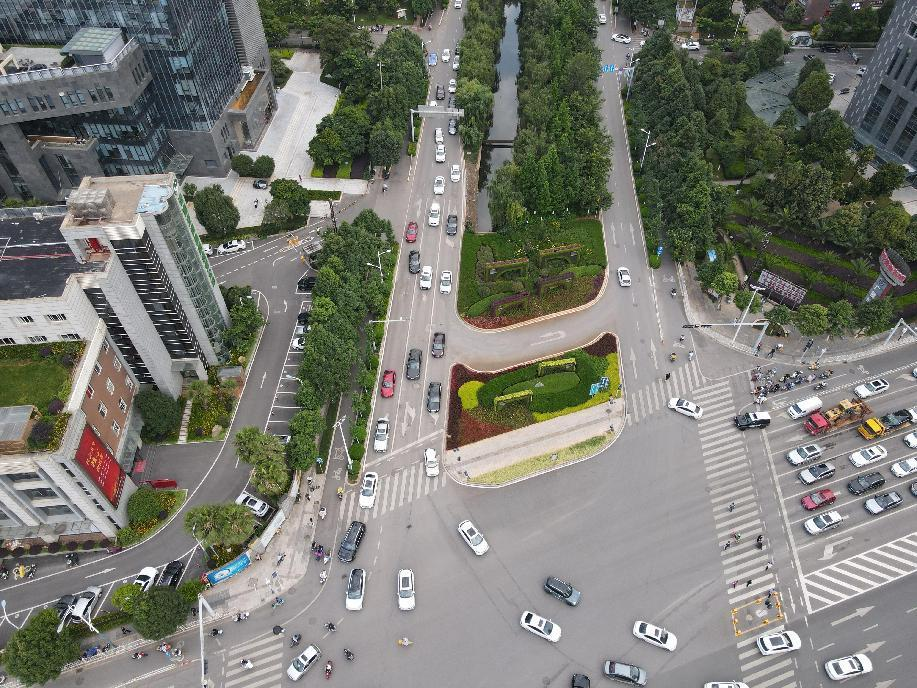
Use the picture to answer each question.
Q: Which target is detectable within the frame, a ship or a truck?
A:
truck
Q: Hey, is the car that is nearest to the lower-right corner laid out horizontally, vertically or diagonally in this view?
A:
horizontally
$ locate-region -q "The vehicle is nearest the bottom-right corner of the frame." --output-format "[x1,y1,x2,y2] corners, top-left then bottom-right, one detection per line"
[822,653,874,681]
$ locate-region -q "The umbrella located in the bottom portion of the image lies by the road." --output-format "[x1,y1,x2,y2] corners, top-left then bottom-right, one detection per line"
[269,619,283,633]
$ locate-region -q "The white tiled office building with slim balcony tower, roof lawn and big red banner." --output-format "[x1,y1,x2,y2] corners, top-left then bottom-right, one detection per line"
[0,168,236,554]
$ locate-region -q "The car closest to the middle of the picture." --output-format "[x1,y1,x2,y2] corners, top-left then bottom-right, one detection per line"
[431,333,445,358]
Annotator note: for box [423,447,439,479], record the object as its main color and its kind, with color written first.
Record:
white car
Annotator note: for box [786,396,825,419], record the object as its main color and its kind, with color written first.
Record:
white vehicle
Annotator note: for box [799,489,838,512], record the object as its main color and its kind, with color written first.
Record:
red car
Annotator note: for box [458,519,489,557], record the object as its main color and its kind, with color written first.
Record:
white car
